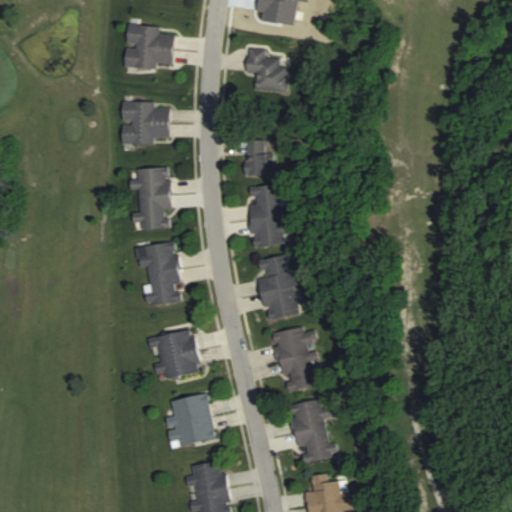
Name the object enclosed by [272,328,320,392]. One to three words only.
house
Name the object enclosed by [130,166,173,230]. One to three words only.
house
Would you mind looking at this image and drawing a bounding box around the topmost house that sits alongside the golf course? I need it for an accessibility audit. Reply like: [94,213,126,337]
[124,18,176,72]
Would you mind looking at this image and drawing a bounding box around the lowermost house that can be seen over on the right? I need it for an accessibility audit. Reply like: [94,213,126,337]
[304,474,353,512]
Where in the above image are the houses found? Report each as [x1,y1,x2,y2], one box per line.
[120,96,172,151]
[272,328,320,392]
[290,398,338,460]
[244,48,290,94]
[130,166,173,230]
[166,394,215,450]
[252,0,304,26]
[240,139,276,178]
[134,240,184,306]
[124,18,176,72]
[185,461,230,512]
[257,254,304,317]
[148,330,200,382]
[304,474,353,512]
[247,186,288,248]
